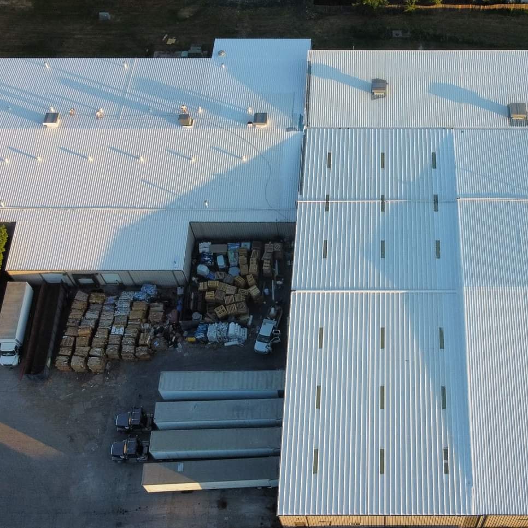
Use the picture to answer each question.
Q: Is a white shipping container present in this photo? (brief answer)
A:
No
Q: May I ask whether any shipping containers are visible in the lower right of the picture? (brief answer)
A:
No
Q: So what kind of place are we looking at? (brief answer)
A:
industrial area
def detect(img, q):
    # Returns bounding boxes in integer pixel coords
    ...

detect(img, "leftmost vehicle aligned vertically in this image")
[0,282,38,375]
